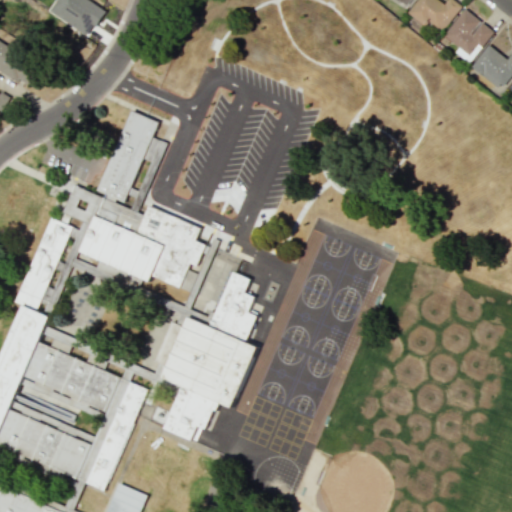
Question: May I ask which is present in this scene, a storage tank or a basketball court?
basketball court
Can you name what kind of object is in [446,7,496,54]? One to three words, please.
house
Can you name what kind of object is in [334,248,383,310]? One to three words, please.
basketball court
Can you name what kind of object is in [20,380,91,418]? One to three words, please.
building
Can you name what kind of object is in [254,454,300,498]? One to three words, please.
sports court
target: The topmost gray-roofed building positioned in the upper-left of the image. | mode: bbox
[49,0,106,36]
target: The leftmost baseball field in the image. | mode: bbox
[318,451,394,512]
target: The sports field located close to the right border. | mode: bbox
[317,259,512,512]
